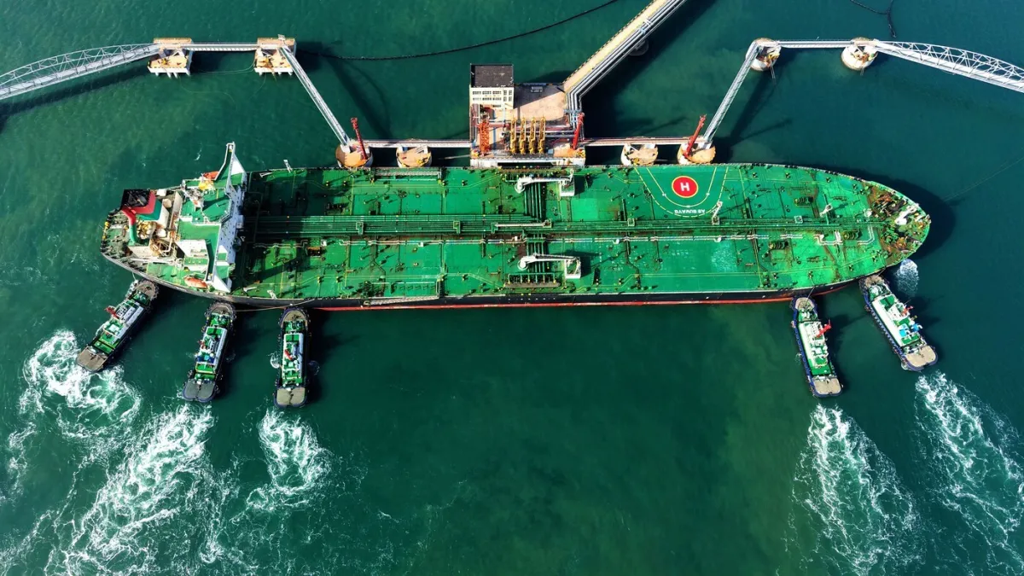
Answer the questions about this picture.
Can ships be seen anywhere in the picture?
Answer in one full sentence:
Yes, I can see a ship in this picture.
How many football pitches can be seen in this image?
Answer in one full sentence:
Not a single football pitch can be seen.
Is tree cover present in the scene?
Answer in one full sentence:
No, no tree cover is visible.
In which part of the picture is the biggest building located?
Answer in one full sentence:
The biggest building appears toward the top of the photo.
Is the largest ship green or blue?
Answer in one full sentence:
In this view, the largest ship is green.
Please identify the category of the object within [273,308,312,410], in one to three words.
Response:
boat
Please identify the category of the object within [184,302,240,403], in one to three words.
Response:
boat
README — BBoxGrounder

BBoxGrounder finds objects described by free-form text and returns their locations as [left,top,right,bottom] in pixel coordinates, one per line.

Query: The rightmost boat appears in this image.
[859,274,934,373]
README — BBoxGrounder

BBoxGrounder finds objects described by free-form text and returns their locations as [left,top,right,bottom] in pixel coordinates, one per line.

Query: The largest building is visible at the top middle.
[469,62,514,115]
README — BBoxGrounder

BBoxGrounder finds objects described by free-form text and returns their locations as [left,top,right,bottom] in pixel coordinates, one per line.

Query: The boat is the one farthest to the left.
[80,279,164,376]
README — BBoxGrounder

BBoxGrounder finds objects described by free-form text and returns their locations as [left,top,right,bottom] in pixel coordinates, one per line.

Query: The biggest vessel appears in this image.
[98,141,934,311]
